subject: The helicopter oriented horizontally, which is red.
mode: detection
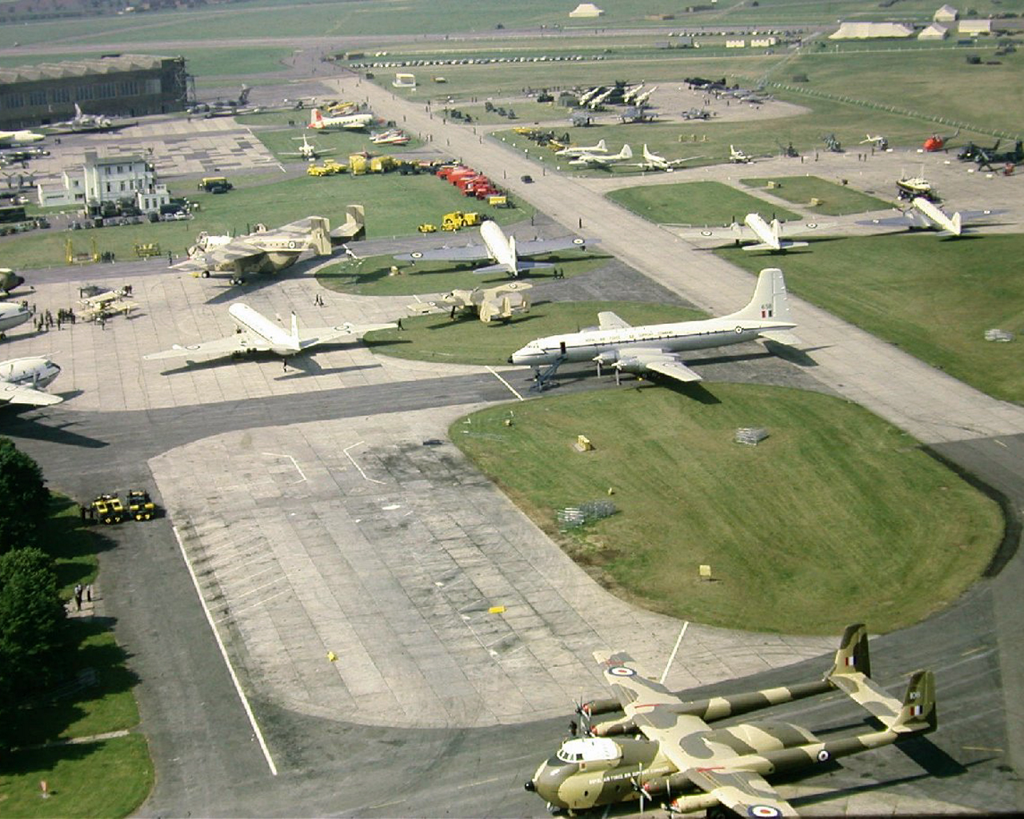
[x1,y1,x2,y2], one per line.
[921,130,968,152]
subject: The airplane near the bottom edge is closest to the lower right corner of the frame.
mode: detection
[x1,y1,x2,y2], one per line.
[524,624,945,819]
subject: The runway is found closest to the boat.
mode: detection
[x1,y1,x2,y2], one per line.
[0,16,1024,61]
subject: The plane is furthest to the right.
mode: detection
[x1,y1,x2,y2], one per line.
[853,201,1008,243]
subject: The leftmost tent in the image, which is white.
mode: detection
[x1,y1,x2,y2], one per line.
[565,3,604,17]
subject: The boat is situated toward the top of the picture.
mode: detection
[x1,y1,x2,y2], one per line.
[894,164,940,200]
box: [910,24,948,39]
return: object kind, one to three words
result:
tent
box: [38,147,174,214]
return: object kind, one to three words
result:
building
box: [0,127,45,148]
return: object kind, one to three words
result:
airplane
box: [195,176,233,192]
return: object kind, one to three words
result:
vehicle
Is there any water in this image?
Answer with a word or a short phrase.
No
